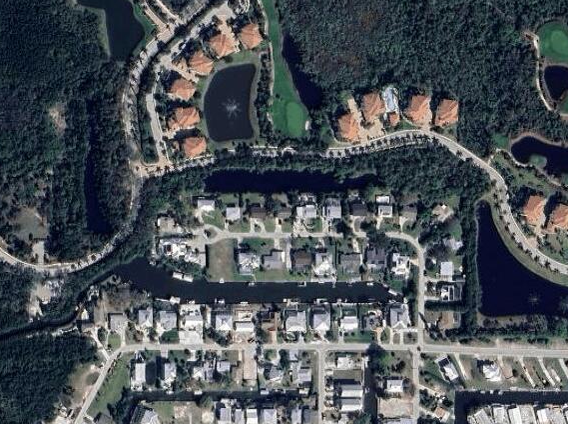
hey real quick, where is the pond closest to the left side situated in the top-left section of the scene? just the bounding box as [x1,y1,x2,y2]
[78,0,143,60]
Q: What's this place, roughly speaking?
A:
residential area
